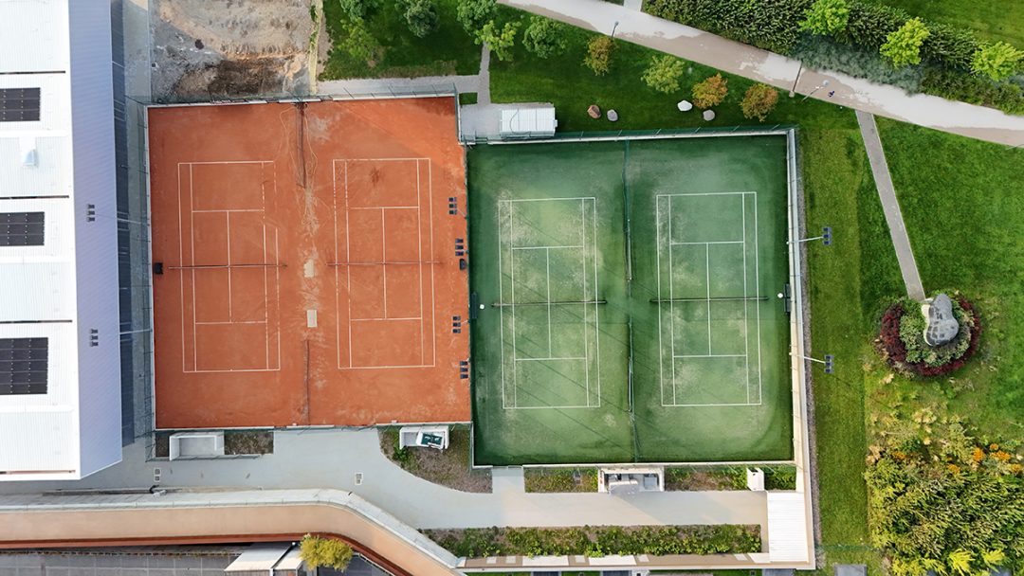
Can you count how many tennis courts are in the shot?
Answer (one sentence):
The picture shows 4 tennis courts.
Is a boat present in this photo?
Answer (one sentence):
No, the picture doesn't show any boat.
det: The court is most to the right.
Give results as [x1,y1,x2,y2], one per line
[626,134,793,463]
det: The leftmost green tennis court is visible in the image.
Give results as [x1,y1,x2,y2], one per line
[467,140,633,467]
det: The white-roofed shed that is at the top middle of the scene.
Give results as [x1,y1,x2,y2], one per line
[500,107,560,140]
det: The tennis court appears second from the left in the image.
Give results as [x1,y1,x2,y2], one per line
[302,96,471,425]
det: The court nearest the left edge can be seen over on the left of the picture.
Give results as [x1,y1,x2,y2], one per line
[151,100,307,428]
